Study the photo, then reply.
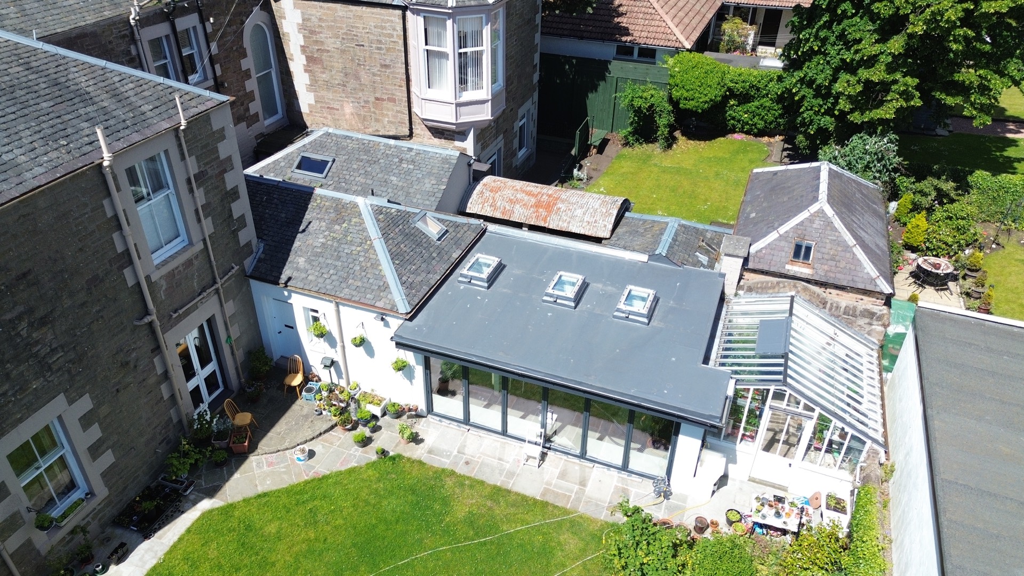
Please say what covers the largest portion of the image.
buildings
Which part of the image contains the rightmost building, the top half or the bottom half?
bottom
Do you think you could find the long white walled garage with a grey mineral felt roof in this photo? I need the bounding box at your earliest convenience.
[889,304,1024,576]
